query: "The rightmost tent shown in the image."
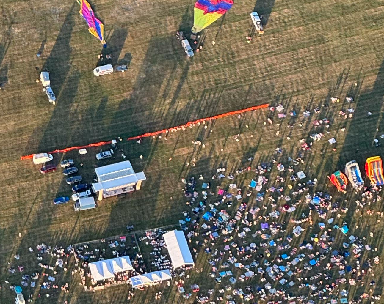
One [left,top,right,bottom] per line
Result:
[164,229,193,271]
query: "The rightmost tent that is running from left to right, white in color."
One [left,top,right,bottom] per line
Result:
[130,269,172,289]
